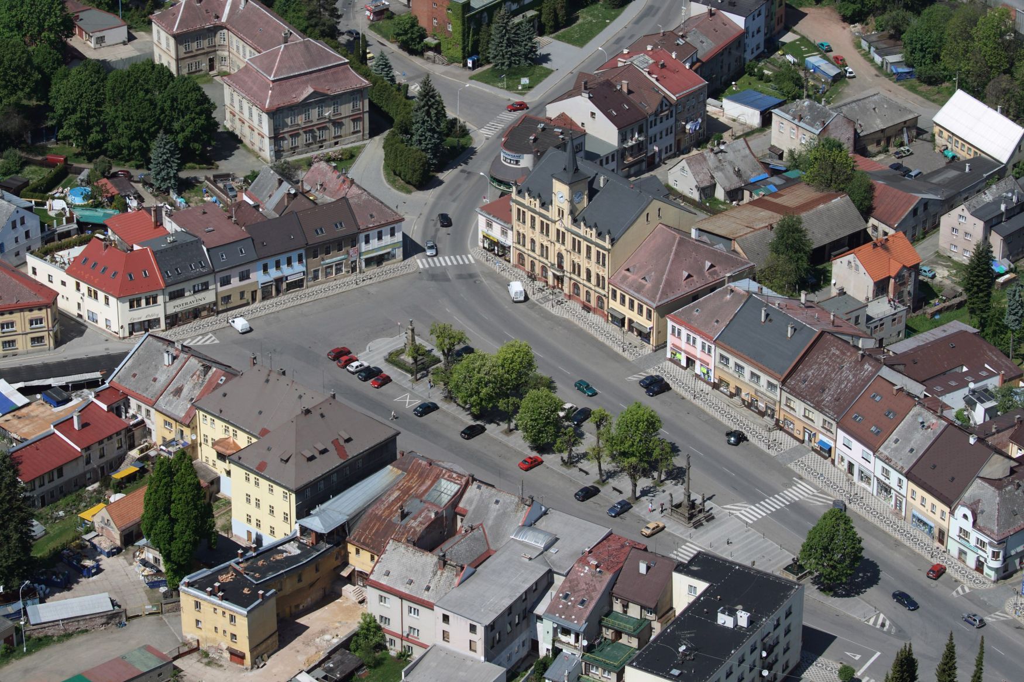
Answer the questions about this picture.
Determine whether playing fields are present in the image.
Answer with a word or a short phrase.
No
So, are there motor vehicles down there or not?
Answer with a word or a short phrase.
Yes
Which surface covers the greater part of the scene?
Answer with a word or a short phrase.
buildings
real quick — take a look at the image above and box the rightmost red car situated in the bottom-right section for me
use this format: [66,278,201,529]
[924,563,949,579]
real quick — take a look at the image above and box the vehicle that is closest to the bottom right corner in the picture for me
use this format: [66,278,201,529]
[959,611,989,628]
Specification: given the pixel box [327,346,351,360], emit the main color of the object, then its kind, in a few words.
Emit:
red car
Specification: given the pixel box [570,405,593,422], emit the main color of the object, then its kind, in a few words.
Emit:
black car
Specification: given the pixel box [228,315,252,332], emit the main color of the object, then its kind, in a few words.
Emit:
white vehicle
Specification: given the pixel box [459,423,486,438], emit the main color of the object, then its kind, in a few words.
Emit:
black car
